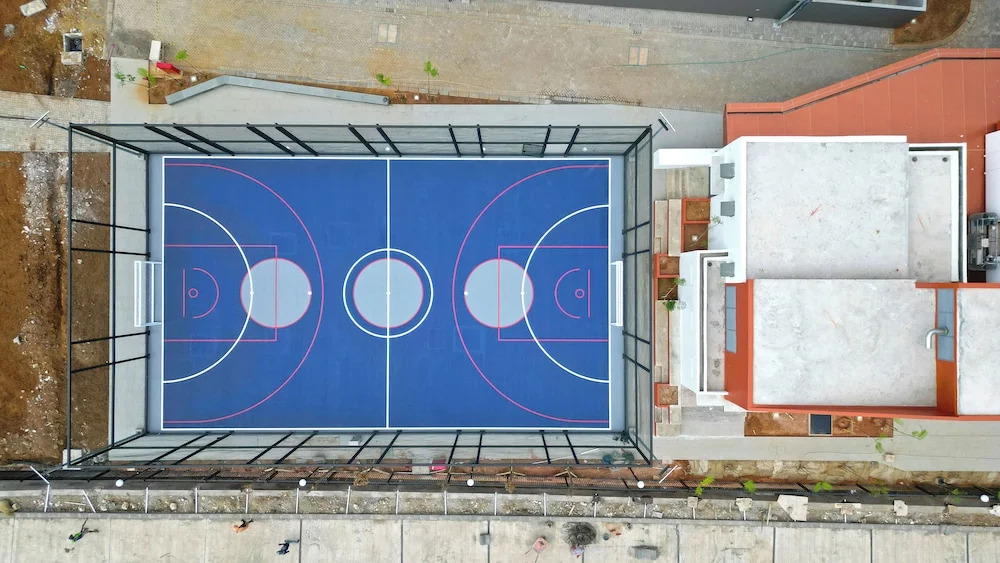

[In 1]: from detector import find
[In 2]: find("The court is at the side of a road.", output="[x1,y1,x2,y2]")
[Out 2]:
[148,155,623,431]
